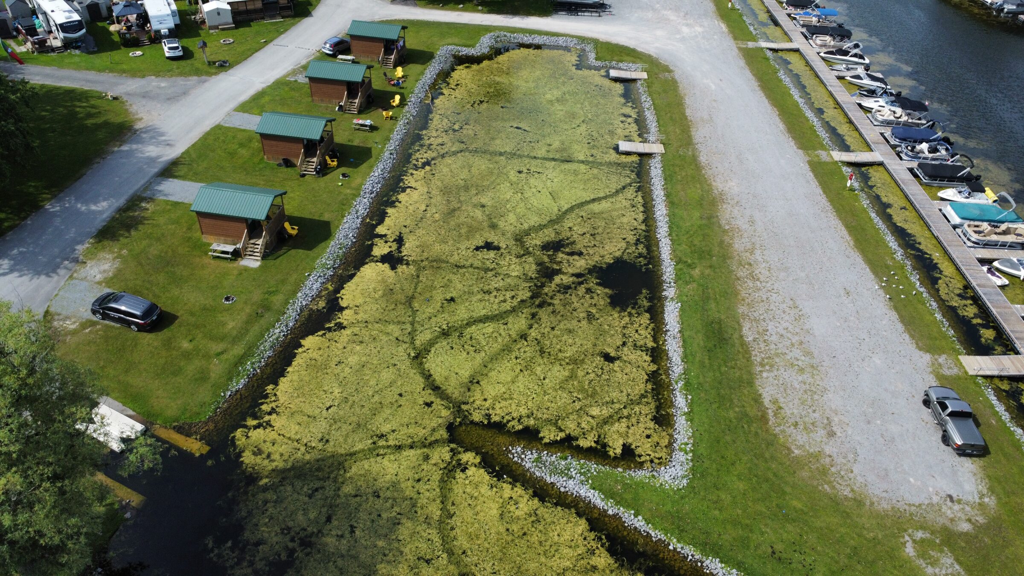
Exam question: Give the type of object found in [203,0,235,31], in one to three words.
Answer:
shed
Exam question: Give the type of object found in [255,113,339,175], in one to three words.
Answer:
building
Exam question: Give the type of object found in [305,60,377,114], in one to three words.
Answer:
building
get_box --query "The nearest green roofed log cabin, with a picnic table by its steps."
[189,184,290,260]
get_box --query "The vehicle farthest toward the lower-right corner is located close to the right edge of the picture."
[926,385,993,456]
